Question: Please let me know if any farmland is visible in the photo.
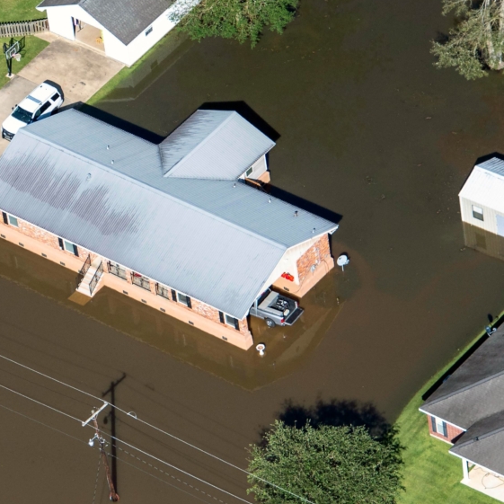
No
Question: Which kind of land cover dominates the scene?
water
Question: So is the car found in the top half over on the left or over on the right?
left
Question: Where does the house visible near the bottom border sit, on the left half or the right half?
right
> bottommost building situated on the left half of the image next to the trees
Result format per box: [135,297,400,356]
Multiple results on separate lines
[0,108,340,351]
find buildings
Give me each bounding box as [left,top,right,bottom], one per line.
[459,158,504,239]
[37,0,194,69]
[0,108,340,351]
[419,323,504,504]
